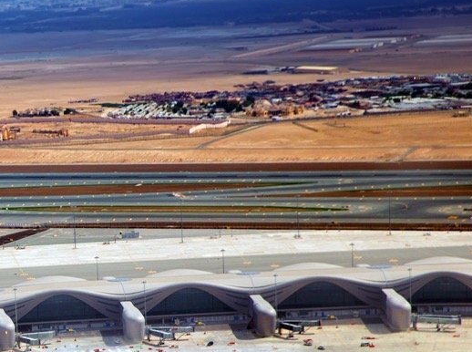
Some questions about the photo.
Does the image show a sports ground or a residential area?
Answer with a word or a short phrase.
residential area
